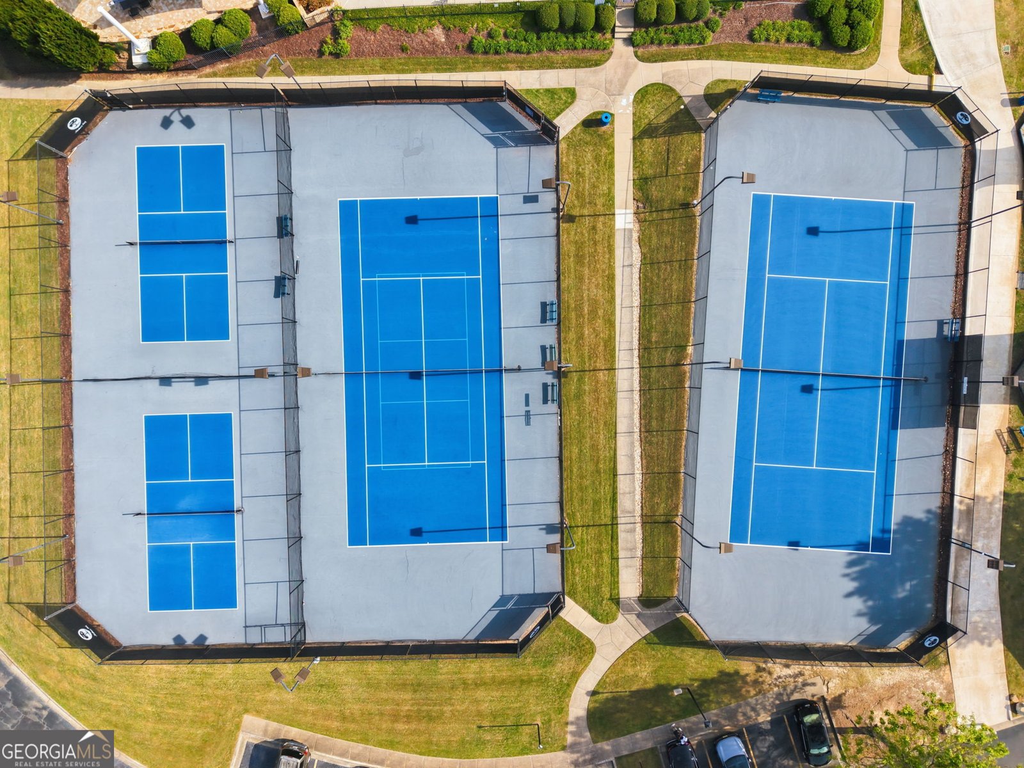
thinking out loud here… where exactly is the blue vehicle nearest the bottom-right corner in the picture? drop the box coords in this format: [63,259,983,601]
[716,731,754,768]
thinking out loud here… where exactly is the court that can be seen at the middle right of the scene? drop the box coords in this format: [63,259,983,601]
[678,91,965,647]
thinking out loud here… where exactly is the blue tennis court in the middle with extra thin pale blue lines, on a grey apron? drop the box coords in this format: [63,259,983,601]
[291,101,560,643]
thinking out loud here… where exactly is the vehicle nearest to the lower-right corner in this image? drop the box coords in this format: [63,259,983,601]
[791,695,833,766]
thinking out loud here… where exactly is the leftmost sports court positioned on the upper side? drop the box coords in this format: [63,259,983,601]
[67,105,298,379]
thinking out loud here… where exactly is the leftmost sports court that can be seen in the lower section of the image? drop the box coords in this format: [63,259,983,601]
[71,376,306,646]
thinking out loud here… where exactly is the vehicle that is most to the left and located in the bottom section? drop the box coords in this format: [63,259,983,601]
[276,739,309,768]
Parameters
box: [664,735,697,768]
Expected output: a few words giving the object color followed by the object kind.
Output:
black car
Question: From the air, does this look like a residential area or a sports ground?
sports ground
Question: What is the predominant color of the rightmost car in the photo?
black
